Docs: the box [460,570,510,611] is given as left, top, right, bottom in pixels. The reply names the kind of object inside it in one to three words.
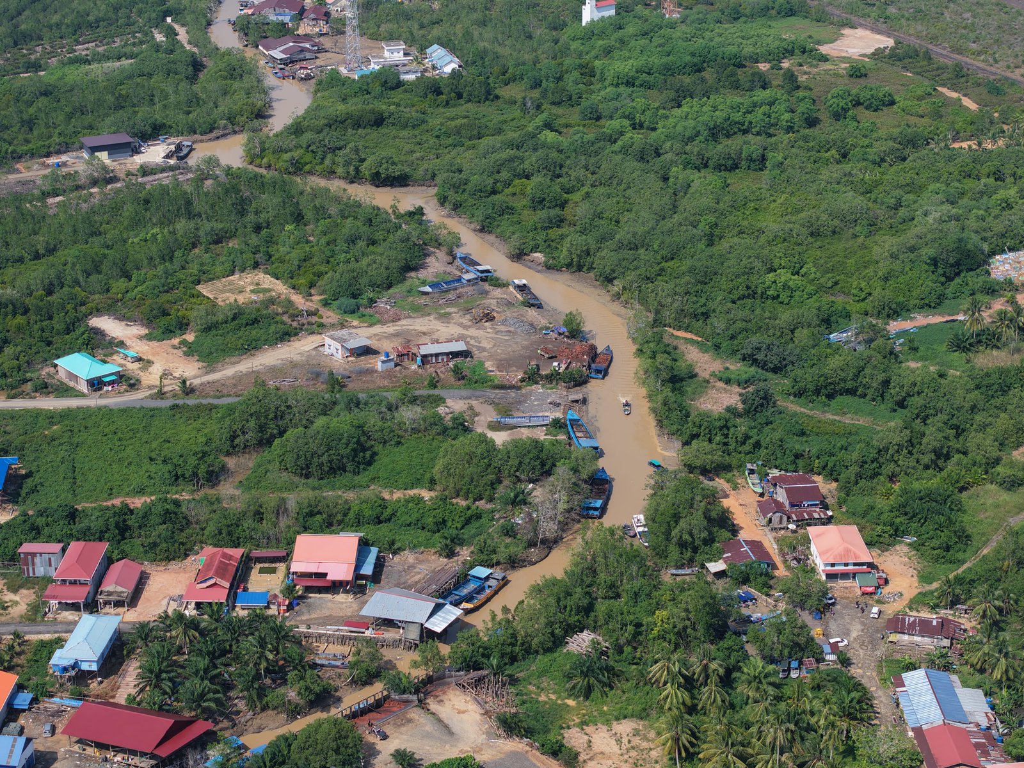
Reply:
ship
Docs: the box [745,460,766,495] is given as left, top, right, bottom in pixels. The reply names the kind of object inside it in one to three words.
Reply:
vessel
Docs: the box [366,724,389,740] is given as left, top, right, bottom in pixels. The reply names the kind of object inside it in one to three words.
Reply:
vehicle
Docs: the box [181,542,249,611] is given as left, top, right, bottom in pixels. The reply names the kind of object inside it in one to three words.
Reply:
house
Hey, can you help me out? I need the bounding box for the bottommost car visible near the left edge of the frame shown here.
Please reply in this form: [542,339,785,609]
[40,721,56,739]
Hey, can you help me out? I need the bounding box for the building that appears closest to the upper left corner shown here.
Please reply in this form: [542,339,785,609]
[85,131,145,159]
